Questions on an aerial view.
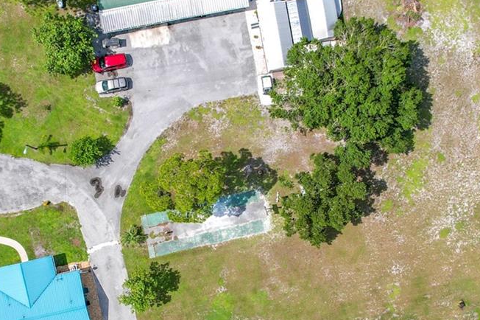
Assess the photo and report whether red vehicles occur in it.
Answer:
Yes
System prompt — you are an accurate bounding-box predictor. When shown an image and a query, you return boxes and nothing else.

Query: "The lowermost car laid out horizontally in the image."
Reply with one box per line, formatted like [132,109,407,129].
[94,77,129,96]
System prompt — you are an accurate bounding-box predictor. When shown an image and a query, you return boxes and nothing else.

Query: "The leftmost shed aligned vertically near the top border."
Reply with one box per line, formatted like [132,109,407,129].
[256,1,296,74]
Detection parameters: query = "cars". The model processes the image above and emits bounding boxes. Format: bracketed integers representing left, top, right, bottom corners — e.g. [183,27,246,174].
[92,54,129,74]
[94,77,129,96]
